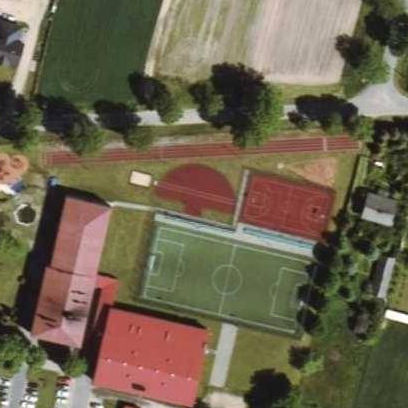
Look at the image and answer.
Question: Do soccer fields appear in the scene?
Yes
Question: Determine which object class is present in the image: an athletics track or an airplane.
athletics track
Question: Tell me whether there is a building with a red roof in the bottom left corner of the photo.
Yes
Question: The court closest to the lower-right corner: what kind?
basketball court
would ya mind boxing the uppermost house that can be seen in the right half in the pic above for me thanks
[361,194,397,226]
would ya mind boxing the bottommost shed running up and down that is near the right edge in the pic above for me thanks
[377,258,395,300]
